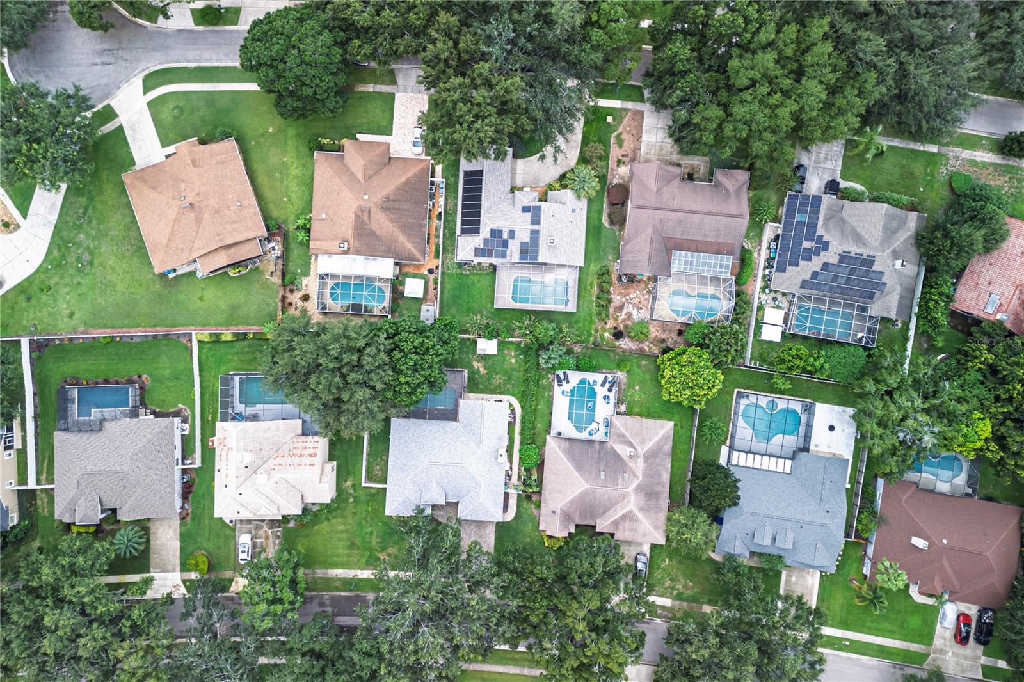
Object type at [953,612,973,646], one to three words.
car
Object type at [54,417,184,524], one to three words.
house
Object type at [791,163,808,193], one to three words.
car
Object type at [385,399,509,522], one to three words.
house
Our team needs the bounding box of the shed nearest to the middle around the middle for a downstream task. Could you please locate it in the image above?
[476,338,498,355]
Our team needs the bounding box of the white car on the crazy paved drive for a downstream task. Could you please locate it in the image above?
[235,532,252,565]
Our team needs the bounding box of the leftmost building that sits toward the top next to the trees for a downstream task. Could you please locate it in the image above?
[121,137,271,274]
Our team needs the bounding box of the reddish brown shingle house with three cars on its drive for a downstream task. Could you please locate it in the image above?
[862,479,1024,609]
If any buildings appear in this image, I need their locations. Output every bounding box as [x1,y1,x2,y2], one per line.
[476,338,498,355]
[204,419,339,520]
[121,137,271,274]
[455,145,587,266]
[309,141,431,278]
[713,450,849,573]
[769,192,928,321]
[862,479,1024,609]
[0,427,24,531]
[539,415,674,545]
[420,302,437,324]
[54,417,184,524]
[385,399,509,522]
[619,161,750,278]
